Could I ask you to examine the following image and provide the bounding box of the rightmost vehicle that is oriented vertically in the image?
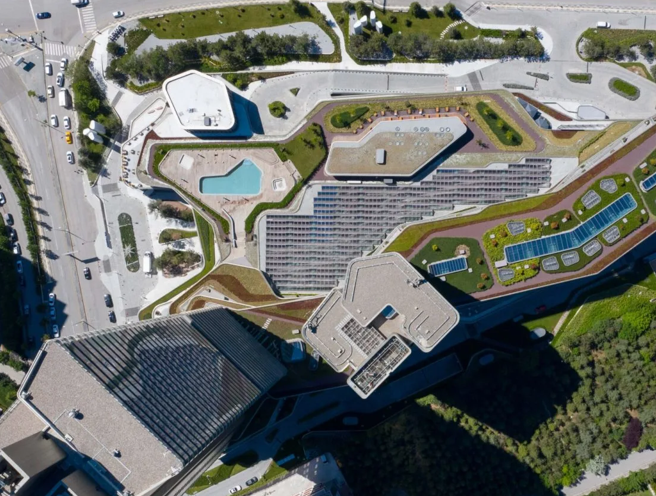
[141,254,154,279]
